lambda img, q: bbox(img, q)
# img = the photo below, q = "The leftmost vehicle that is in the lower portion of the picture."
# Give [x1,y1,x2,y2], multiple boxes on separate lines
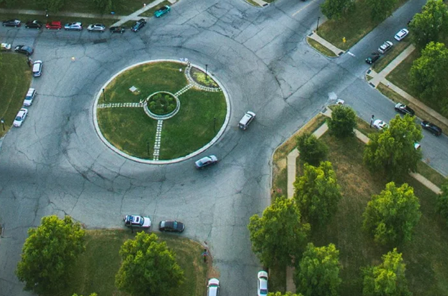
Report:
[124,215,151,229]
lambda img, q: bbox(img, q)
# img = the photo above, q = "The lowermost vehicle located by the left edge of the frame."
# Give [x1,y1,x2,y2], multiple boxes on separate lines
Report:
[12,107,30,128]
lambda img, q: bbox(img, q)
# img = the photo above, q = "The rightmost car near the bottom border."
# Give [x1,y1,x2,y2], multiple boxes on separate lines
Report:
[256,273,269,296]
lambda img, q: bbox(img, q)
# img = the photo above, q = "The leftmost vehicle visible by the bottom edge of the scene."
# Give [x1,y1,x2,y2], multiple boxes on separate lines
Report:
[207,275,219,296]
